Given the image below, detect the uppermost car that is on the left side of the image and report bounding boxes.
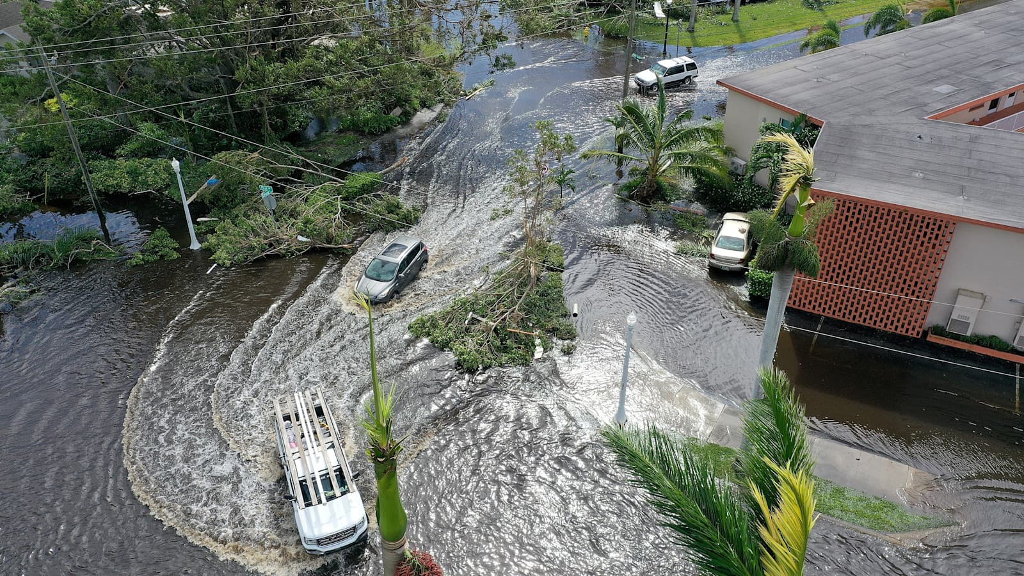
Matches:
[350,237,429,313]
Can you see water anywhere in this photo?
Yes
